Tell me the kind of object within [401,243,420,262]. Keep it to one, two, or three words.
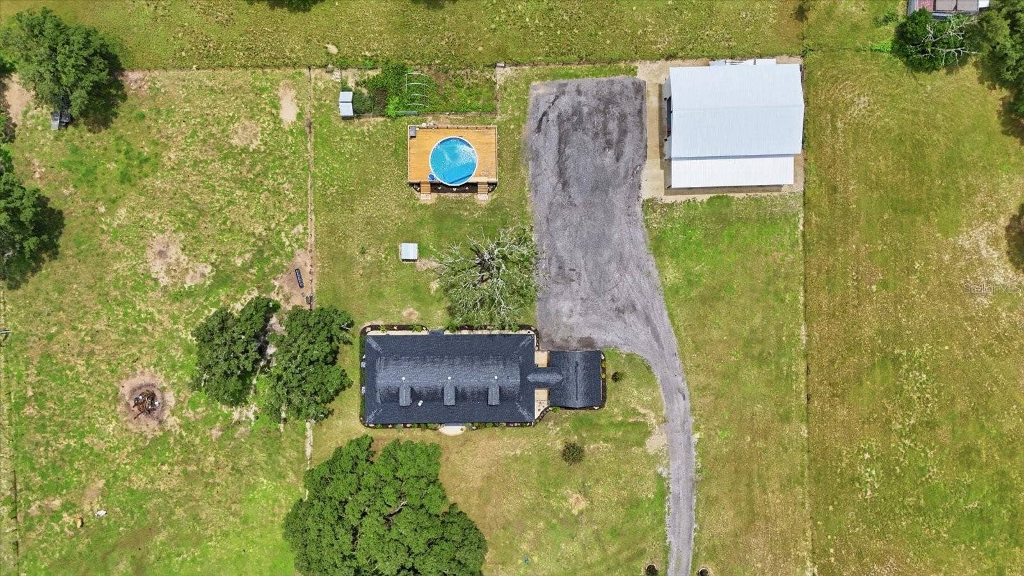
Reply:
shed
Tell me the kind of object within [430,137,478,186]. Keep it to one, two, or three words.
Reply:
swimming pool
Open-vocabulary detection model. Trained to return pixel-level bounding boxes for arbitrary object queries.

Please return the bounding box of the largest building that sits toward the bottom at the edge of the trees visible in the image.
[365,330,535,427]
